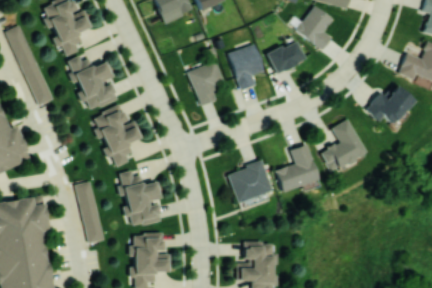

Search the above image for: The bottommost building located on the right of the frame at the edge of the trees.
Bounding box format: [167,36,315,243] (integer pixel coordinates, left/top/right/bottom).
[240,242,281,288]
